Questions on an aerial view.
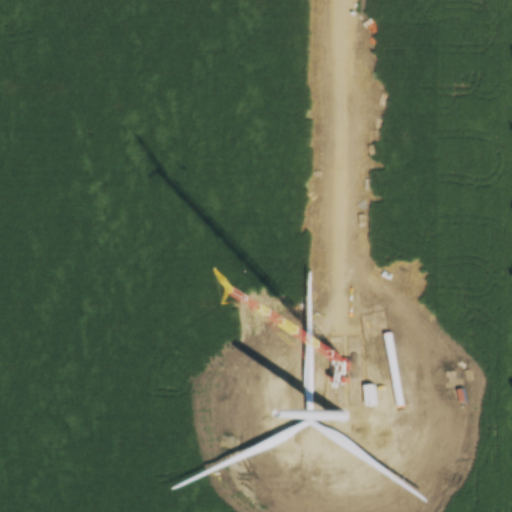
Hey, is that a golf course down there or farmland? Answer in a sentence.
The area seen from above is farmland.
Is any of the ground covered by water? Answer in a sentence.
No, the picture contains no water.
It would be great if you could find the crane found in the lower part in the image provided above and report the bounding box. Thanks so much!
[212,265,352,388]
